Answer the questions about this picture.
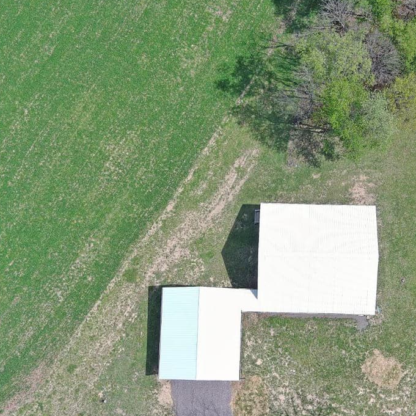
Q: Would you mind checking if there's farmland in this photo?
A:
Yes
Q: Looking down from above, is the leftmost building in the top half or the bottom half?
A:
bottom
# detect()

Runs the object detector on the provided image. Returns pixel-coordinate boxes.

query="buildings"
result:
[258,203,379,317]
[157,287,243,382]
